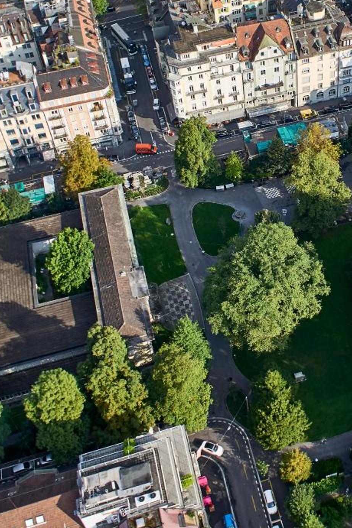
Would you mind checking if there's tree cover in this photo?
Yes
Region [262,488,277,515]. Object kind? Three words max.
car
